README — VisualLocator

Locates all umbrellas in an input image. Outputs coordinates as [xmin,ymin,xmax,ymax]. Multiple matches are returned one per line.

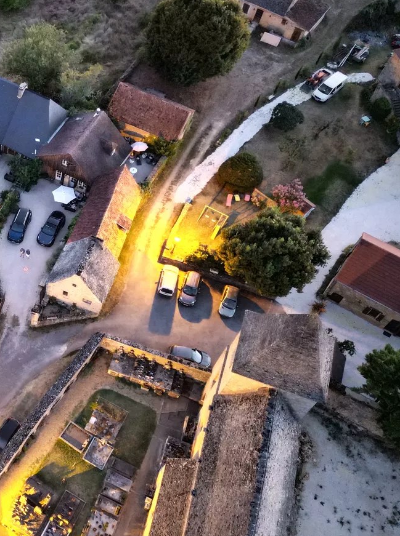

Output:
[130,140,149,162]
[49,184,78,210]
